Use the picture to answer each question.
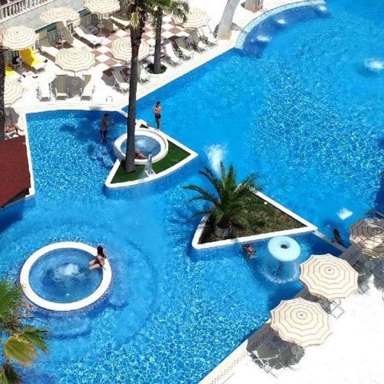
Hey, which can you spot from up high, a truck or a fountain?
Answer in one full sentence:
Of the two, only a fountain appears.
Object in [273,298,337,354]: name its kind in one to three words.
umbrella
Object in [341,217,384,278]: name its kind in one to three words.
umbrella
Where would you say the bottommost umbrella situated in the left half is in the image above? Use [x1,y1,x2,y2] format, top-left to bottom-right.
[2,83,31,129]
